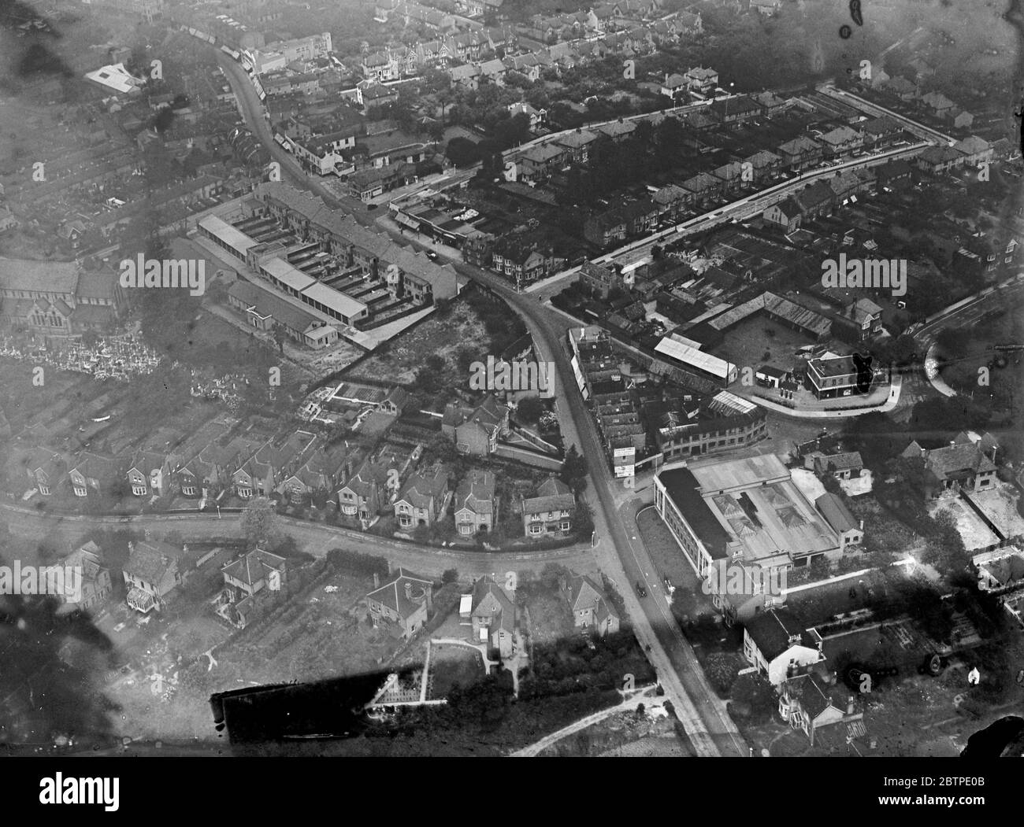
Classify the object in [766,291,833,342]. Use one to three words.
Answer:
shed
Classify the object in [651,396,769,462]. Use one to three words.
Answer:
building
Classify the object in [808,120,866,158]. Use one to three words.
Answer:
house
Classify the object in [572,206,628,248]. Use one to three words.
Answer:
house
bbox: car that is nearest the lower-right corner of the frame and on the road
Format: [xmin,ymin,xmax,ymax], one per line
[635,581,648,597]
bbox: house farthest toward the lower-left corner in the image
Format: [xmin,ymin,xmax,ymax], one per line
[46,542,117,612]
